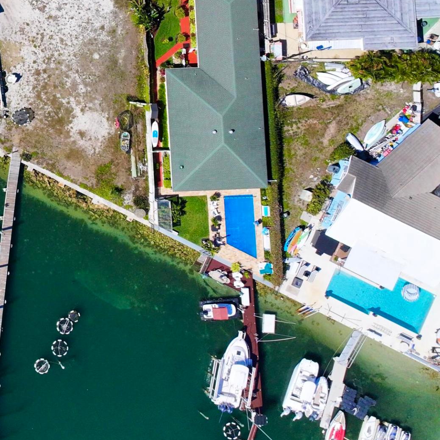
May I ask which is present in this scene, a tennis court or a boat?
boat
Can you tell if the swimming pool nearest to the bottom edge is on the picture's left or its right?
right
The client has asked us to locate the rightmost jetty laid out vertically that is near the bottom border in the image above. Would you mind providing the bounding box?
[316,358,345,427]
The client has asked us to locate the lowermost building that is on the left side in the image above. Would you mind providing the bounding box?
[155,198,173,233]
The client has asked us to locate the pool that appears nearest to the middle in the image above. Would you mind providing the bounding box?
[221,191,261,264]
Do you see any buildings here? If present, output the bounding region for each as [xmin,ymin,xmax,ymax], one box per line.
[162,0,268,192]
[293,0,440,50]
[155,198,173,233]
[317,119,440,291]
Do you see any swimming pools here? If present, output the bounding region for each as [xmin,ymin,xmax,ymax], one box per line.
[221,191,261,264]
[323,267,439,339]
